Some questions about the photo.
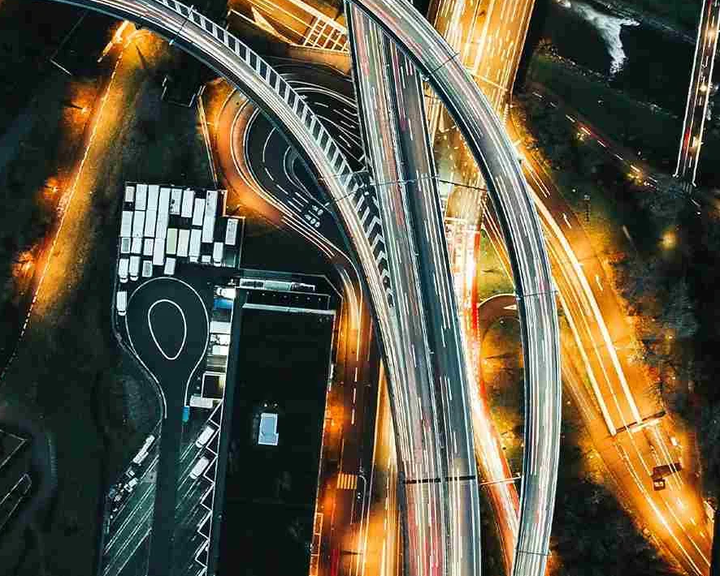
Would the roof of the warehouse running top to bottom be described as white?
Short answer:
No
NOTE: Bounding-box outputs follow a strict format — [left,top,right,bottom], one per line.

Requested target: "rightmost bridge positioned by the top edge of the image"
[671,0,720,194]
